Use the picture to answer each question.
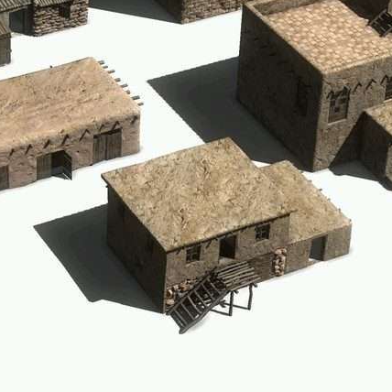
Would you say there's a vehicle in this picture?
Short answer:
No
